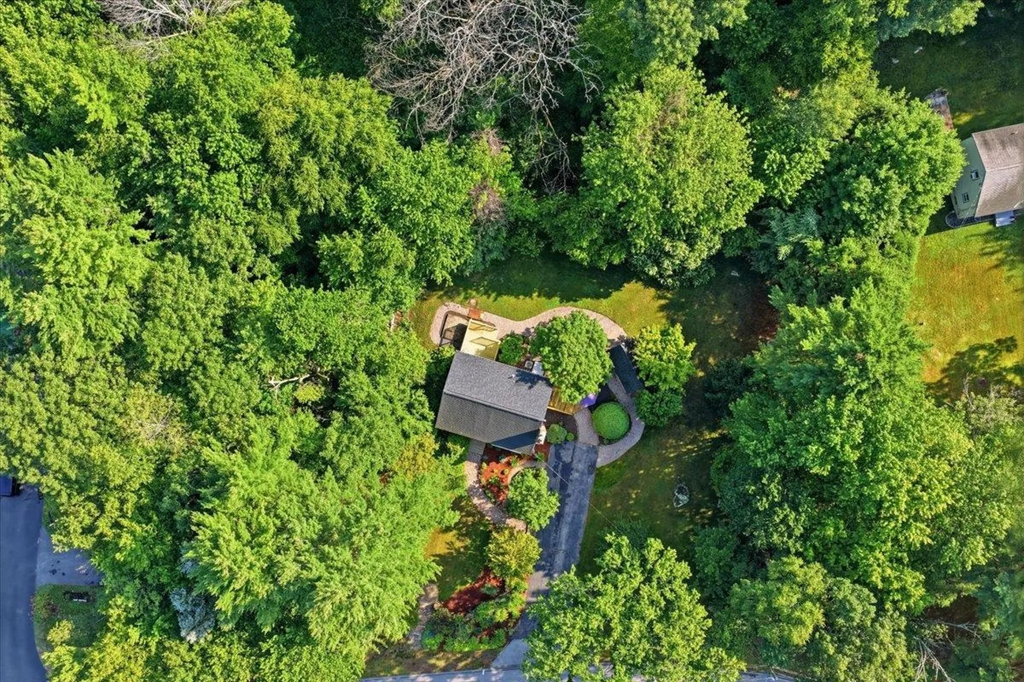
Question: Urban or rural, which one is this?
rural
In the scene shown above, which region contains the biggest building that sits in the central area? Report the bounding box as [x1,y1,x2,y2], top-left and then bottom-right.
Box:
[434,350,555,458]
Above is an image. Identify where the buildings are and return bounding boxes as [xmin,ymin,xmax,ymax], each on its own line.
[434,350,555,458]
[949,125,1024,220]
[609,344,645,394]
